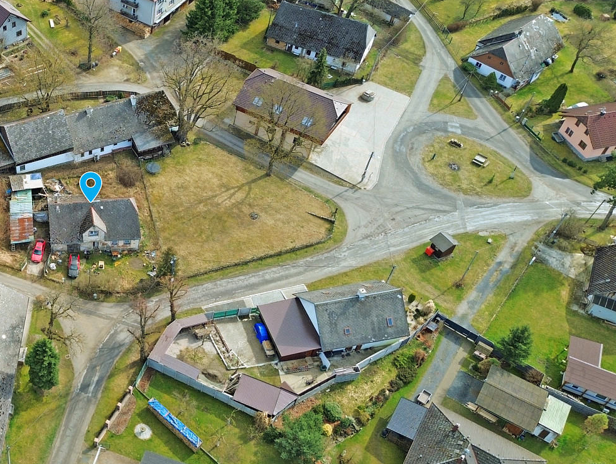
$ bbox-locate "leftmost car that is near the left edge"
[31,237,46,262]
